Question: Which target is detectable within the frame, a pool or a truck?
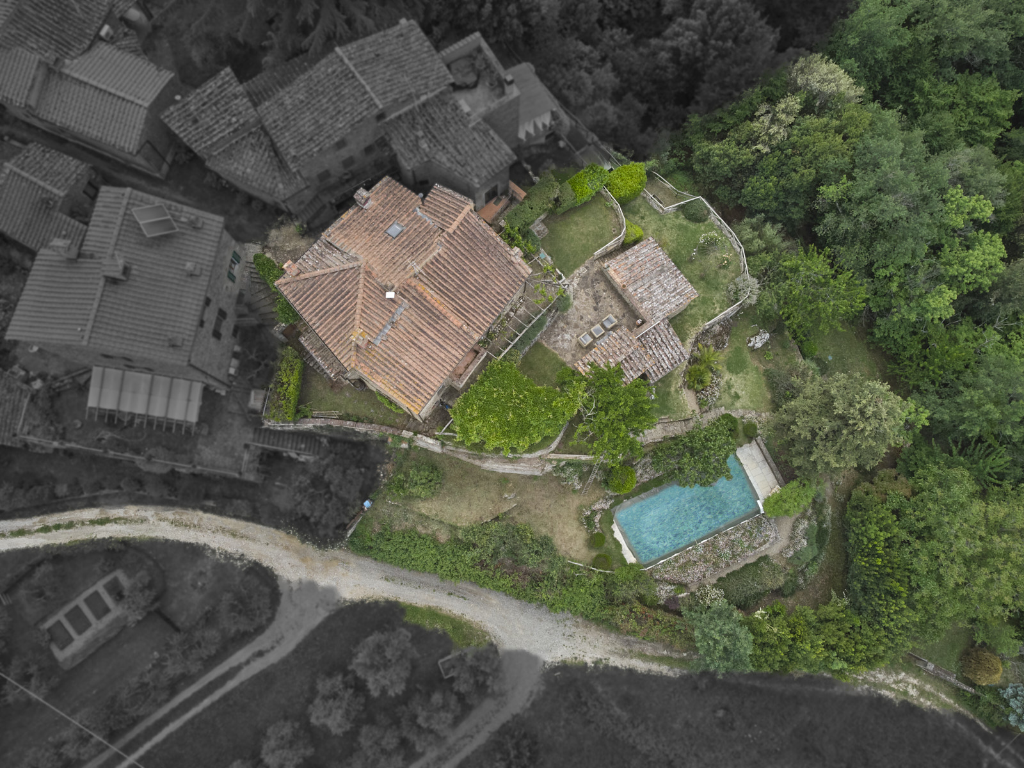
pool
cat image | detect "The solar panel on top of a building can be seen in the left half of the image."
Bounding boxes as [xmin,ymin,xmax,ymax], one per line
[131,203,186,246]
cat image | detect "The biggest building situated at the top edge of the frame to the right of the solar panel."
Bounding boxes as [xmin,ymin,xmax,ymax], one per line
[160,14,516,222]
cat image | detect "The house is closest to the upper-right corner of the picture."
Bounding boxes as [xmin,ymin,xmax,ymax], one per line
[600,236,700,328]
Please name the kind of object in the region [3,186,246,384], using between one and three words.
house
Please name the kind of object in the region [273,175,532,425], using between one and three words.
house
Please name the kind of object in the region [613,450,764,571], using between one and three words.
swimming pool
